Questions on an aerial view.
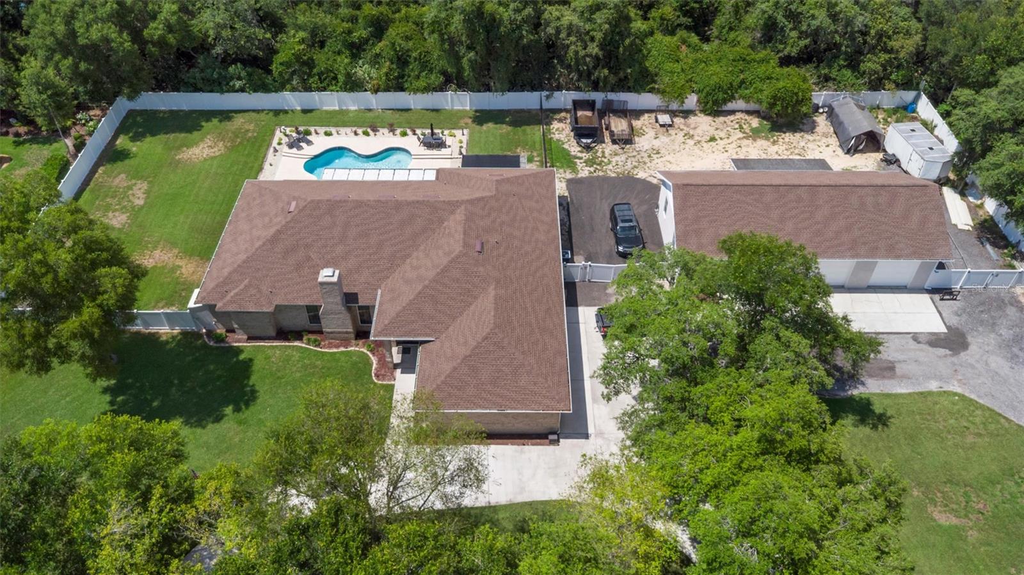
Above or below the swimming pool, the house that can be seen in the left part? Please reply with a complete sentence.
Within the scene, the house that can be seen in the left part can be found below the swimming pool.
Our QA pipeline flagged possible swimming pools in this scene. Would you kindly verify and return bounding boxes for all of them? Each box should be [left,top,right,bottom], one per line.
[300,144,415,180]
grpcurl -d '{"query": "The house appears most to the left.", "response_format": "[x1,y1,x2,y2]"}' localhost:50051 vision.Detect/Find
[194,168,573,432]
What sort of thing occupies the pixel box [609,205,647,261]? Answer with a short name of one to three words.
car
